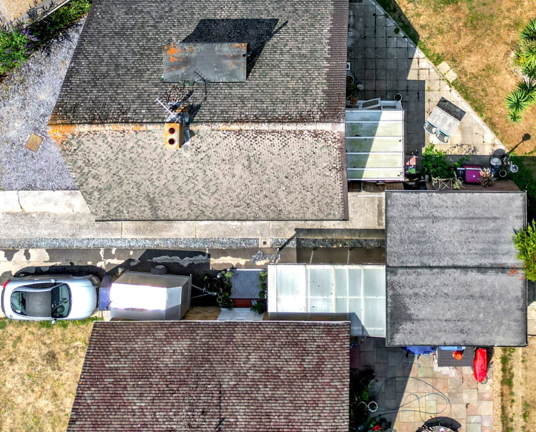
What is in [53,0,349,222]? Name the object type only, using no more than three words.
house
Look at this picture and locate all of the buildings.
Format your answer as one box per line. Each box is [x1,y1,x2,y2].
[67,302,350,432]
[386,179,527,347]
[53,0,349,222]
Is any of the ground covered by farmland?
No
